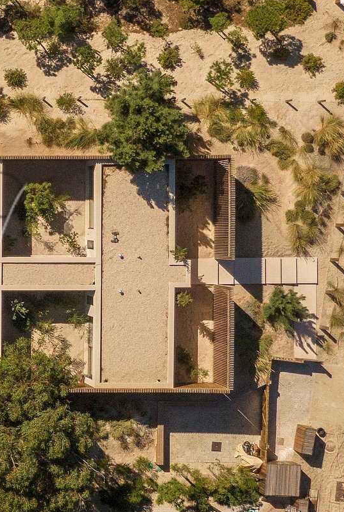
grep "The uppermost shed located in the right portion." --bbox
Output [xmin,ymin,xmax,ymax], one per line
[293,422,317,455]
